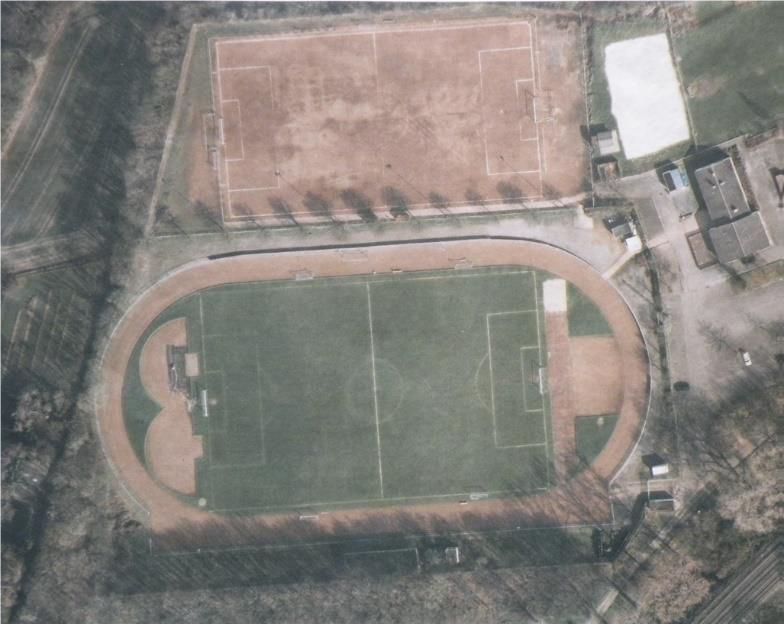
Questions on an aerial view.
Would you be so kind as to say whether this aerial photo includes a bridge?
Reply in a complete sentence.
No, there appears to be no bridge in this shot.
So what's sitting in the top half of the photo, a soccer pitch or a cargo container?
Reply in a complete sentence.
The feature located in the top half of the photo is a soccer pitch.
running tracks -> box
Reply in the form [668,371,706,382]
[100,243,648,547]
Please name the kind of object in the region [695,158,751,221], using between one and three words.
building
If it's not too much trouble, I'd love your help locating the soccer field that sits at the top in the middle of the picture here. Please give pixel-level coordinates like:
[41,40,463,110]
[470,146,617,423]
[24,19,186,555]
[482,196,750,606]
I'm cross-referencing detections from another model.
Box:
[211,18,548,224]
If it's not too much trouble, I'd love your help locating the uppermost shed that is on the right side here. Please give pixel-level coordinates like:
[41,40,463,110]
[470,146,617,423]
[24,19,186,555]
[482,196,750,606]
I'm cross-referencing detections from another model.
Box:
[598,130,620,155]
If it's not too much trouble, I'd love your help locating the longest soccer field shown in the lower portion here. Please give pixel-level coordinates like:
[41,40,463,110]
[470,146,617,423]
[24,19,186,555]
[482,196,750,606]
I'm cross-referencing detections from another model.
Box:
[122,265,625,515]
